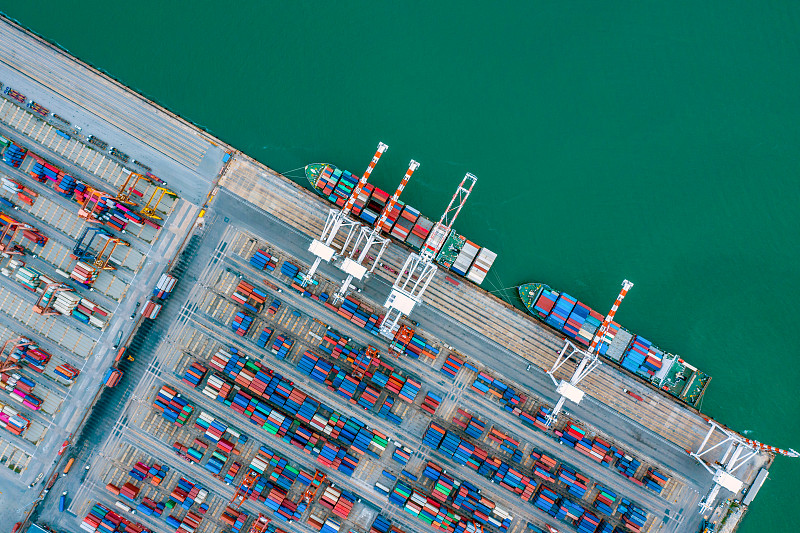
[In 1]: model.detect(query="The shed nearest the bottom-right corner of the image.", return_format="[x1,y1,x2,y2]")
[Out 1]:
[738,466,768,506]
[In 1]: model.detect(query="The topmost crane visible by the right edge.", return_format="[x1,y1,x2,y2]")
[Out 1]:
[683,417,800,515]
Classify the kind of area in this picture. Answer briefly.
port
